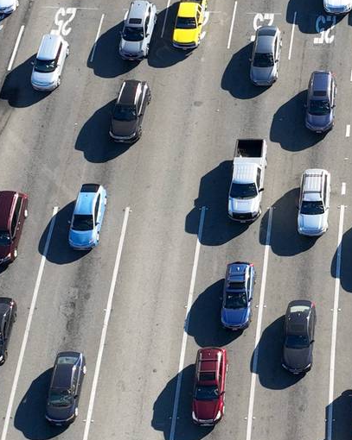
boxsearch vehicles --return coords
[226,138,267,225]
[44,352,88,426]
[29,32,70,93]
[220,259,257,331]
[0,0,21,14]
[0,190,32,267]
[248,27,282,86]
[303,70,336,133]
[323,0,352,15]
[170,0,209,51]
[281,302,317,375]
[67,184,108,249]
[0,299,17,368]
[296,168,332,236]
[189,348,230,426]
[119,0,158,61]
[109,80,151,143]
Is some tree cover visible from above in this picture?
No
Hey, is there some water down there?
No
